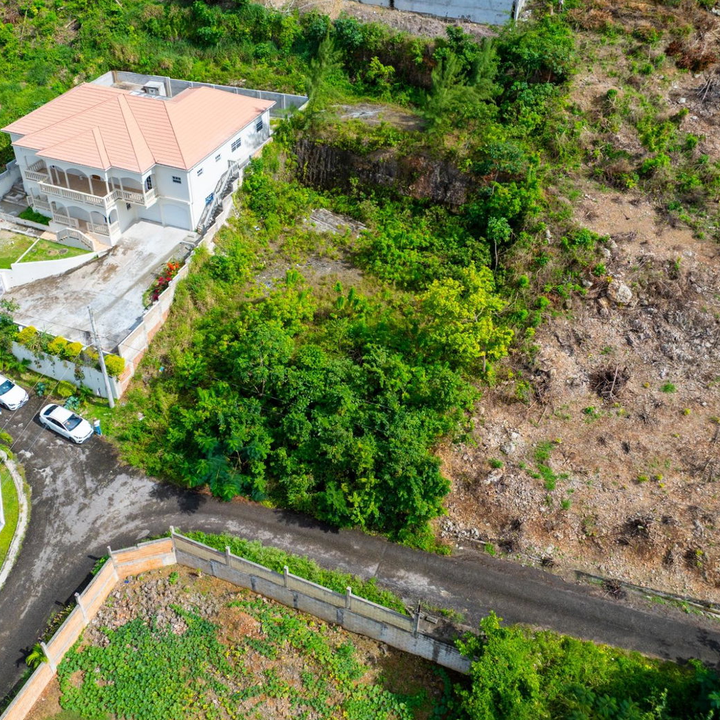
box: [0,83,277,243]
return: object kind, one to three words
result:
house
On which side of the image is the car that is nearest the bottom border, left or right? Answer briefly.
left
